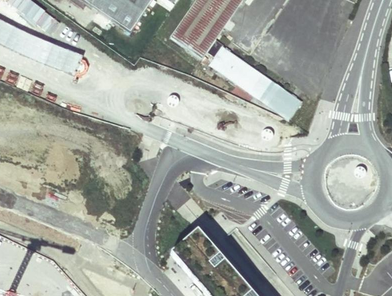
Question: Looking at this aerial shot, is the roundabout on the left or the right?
right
